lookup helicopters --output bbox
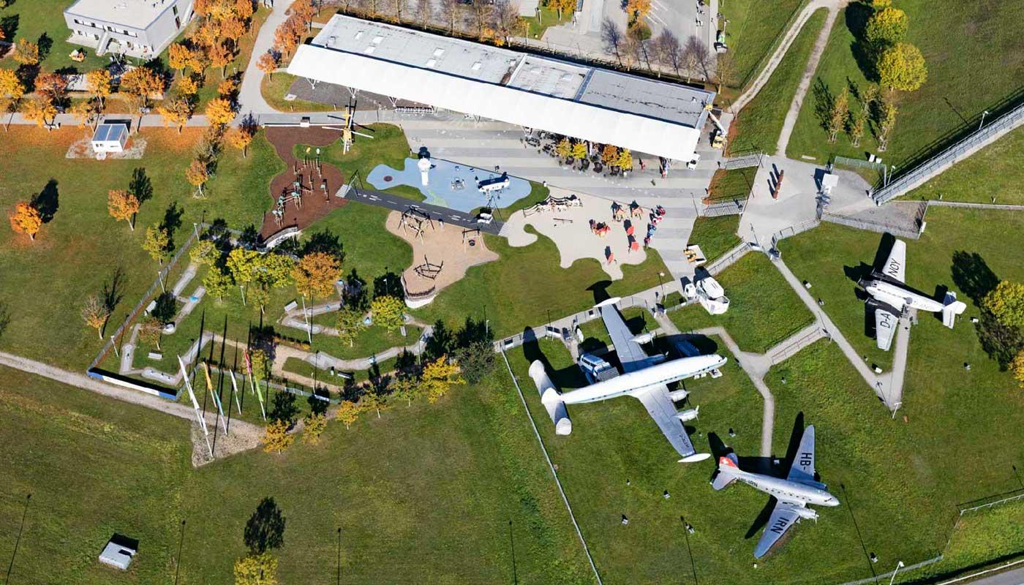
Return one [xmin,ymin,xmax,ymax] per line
[318,116,371,166]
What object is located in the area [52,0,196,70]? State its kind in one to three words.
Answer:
building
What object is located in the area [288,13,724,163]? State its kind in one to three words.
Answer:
building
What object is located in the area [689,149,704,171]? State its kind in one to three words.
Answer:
vehicle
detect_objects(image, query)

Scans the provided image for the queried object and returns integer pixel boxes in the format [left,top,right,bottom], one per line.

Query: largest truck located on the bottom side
[575,350,621,382]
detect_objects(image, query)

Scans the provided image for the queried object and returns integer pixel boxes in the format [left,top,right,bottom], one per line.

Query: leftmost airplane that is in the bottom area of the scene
[534,296,726,463]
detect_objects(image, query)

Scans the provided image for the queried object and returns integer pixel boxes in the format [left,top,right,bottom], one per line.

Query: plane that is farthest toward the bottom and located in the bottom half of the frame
[720,427,839,561]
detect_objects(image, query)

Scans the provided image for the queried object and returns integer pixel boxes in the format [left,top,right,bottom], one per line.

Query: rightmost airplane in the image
[855,239,961,350]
